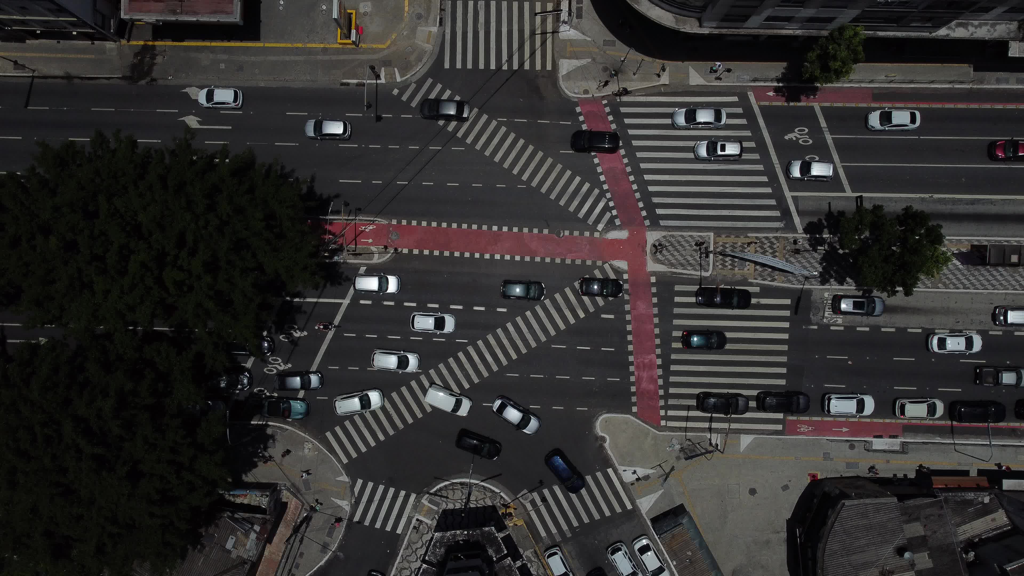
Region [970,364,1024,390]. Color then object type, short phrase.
black vehicle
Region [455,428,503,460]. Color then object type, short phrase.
black car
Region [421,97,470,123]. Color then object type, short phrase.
black car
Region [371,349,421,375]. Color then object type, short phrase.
white car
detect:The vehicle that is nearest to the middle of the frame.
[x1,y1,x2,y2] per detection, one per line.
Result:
[501,278,545,302]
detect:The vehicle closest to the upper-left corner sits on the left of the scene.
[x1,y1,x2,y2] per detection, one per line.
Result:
[199,85,245,111]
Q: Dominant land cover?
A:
paved ground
